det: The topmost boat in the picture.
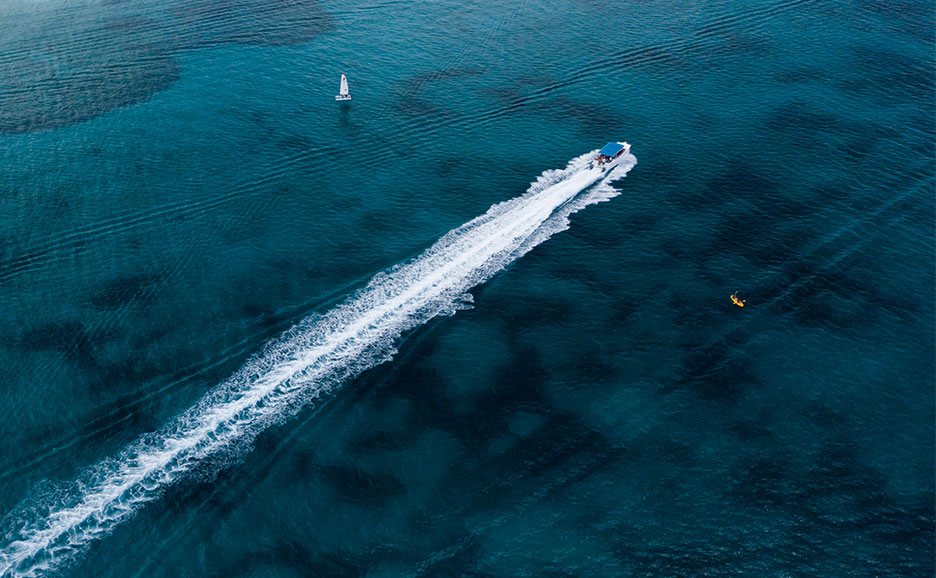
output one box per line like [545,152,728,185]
[336,72,353,101]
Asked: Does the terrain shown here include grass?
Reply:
No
